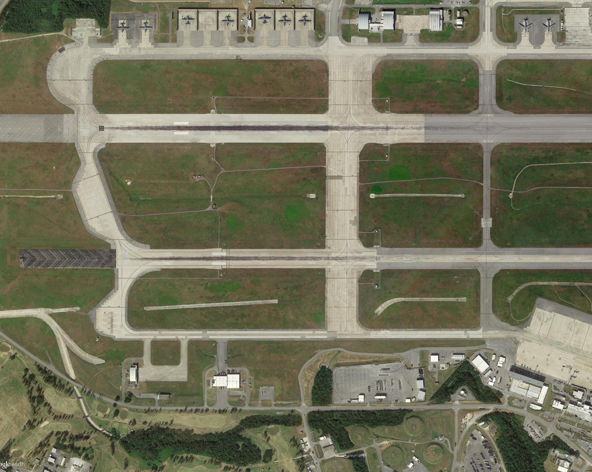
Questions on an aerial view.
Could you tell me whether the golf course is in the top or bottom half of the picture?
bottom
